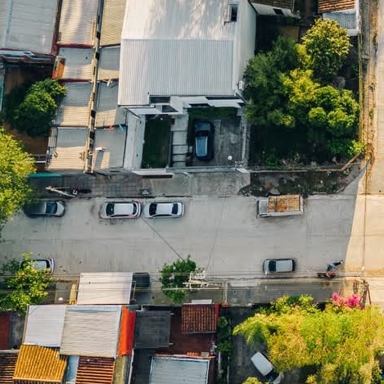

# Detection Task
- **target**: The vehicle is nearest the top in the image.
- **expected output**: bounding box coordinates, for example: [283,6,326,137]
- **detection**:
[190,121,215,162]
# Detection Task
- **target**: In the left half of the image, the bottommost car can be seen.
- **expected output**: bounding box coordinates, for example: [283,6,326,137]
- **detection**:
[132,272,155,290]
